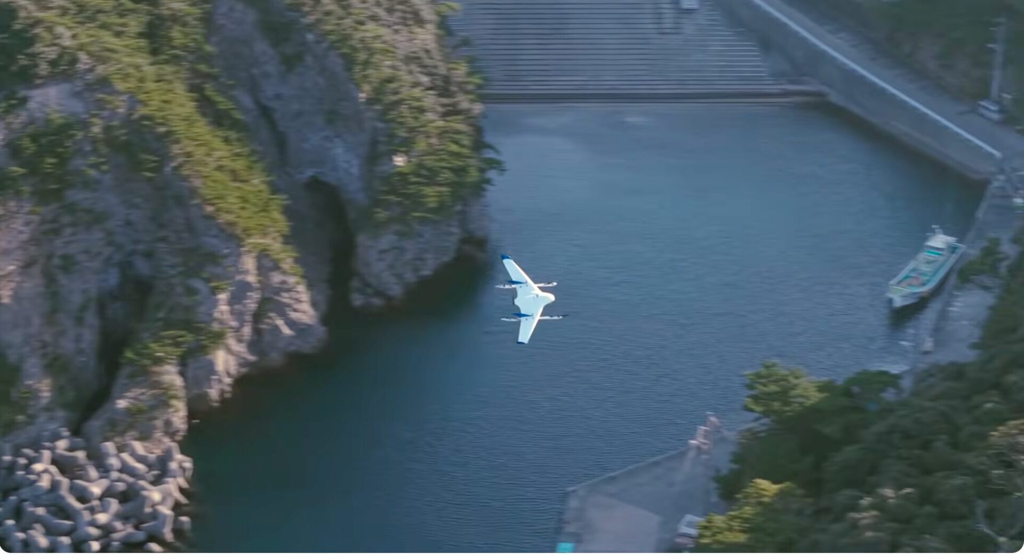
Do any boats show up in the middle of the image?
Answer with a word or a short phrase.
No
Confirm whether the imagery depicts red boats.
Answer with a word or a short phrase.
No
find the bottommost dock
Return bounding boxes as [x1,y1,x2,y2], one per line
[557,413,782,554]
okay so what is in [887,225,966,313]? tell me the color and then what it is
blue boat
